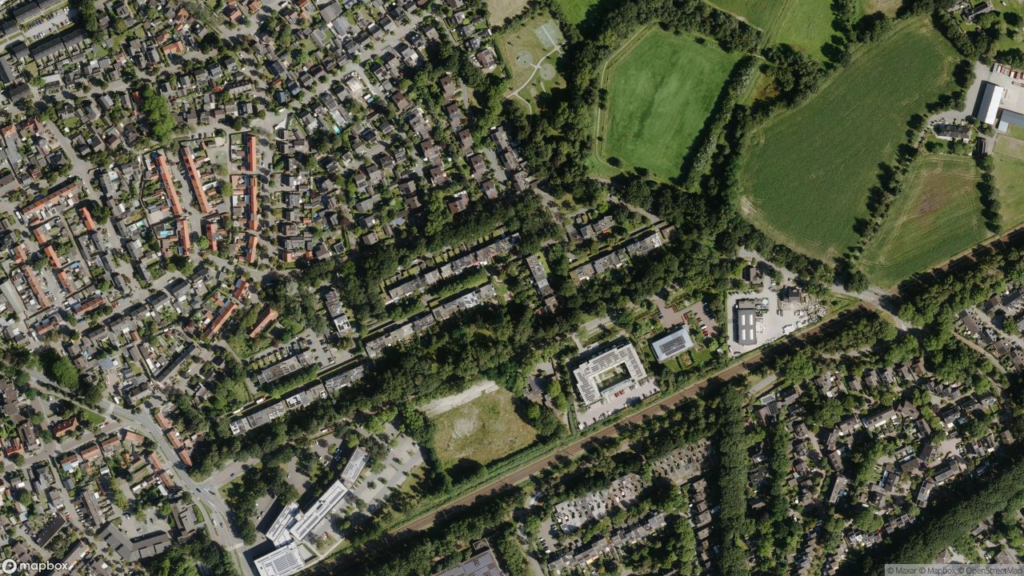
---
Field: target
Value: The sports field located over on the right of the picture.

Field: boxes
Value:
[593,19,756,189]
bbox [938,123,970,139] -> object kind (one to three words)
house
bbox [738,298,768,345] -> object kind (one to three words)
building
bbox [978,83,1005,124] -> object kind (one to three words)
barn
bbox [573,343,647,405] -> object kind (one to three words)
building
